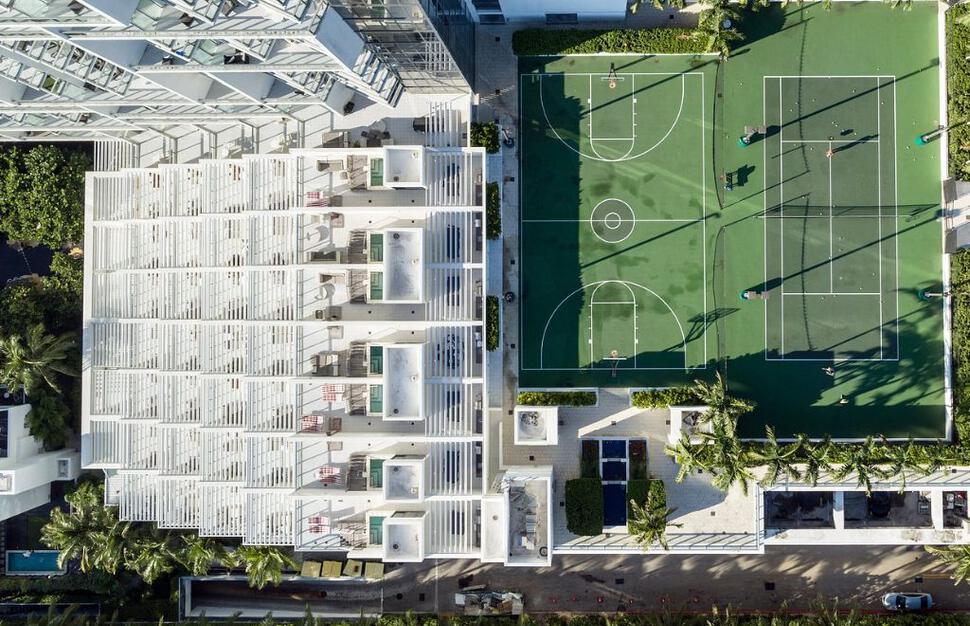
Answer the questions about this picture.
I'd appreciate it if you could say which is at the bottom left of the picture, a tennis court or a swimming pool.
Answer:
swimming pool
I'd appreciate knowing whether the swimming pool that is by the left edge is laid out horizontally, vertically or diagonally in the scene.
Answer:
horizontally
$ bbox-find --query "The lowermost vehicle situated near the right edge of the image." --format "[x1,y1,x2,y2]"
[882,588,932,612]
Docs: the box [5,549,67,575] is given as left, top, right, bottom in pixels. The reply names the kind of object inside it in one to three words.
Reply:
swimming pool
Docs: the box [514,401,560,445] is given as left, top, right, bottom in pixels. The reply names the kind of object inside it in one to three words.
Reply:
building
